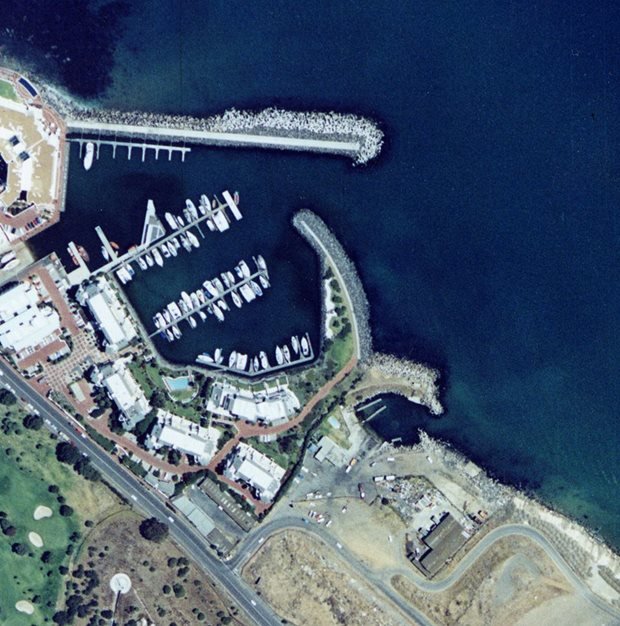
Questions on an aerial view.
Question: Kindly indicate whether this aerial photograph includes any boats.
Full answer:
Yes, there's a boat here.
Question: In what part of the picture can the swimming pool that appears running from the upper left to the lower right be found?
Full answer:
Look in the top left portion of the view to spot the swimming pool that appears running from the upper left to the lower right.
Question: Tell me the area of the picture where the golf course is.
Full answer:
The golf course sits in the bottom left section of the image.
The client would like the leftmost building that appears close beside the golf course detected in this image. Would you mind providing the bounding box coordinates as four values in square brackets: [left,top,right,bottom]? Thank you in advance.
[0,281,59,356]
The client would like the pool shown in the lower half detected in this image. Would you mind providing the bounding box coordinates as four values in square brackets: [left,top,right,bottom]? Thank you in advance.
[165,377,189,391]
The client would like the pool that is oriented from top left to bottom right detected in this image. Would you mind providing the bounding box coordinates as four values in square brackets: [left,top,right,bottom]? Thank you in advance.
[17,76,38,98]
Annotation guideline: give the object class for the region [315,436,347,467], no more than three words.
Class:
building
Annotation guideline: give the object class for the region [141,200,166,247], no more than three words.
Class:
pier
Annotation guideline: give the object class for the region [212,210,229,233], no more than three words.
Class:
vessel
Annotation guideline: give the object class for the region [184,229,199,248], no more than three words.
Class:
boat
